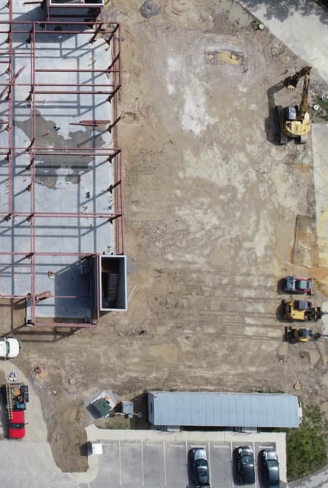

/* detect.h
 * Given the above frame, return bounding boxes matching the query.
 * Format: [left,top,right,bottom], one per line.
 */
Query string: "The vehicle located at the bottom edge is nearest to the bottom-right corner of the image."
[259,451,279,488]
